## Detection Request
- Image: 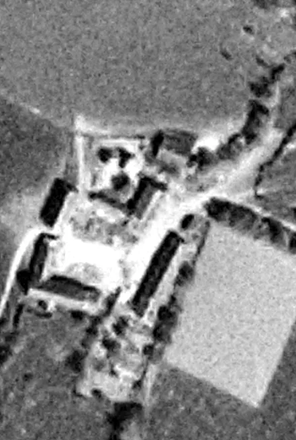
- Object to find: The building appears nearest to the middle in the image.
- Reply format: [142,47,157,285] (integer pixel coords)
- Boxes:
[132,183,165,224]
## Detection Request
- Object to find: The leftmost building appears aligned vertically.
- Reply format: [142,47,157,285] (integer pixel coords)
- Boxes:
[35,236,57,281]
